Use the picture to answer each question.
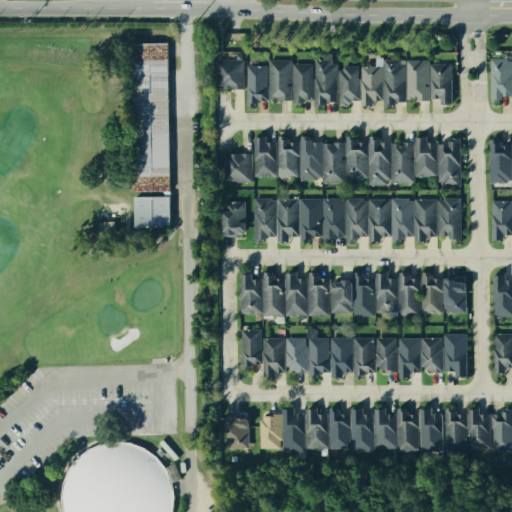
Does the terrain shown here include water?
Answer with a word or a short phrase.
No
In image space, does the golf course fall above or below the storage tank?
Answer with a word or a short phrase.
above it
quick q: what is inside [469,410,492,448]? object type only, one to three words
house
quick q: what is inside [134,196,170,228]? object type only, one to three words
shed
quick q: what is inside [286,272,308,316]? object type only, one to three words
house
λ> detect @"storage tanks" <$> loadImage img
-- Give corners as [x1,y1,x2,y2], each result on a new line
[60,442,175,512]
